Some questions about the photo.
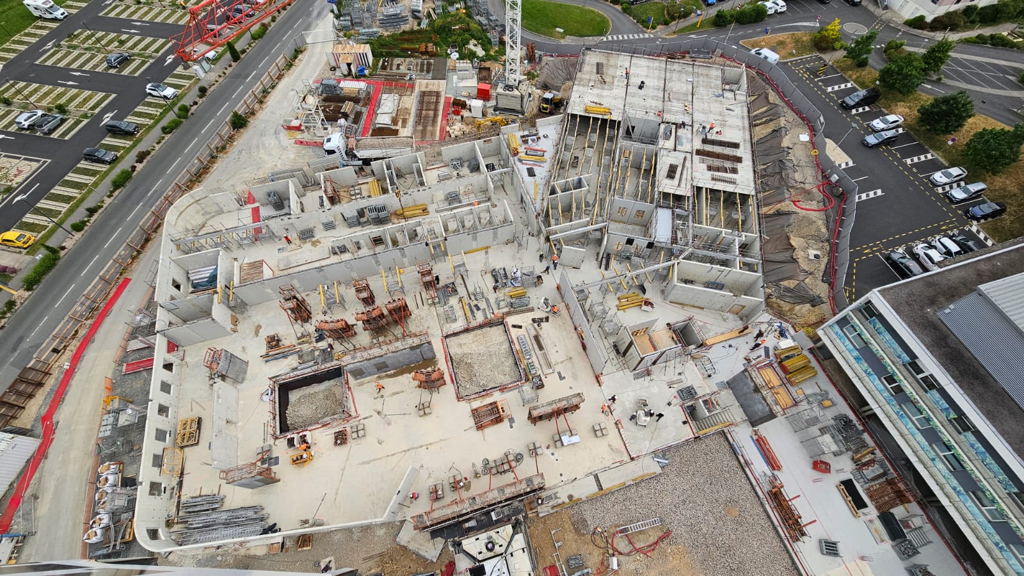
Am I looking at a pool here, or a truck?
truck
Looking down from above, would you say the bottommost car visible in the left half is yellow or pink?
yellow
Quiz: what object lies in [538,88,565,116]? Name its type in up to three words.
truck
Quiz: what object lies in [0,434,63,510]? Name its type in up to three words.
building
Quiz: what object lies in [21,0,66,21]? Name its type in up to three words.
vehicle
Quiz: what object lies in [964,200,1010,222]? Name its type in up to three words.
car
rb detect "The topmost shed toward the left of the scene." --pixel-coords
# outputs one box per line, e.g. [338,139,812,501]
[327,50,371,82]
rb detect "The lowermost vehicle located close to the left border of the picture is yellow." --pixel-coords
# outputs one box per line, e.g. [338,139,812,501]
[0,228,38,251]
